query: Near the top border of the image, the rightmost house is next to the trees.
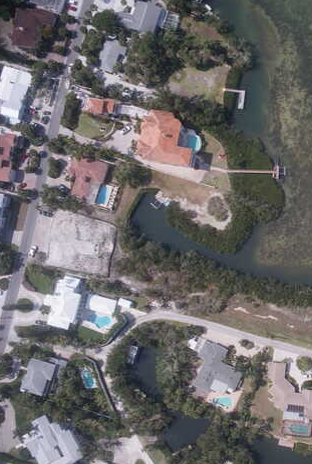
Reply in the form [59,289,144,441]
[116,2,162,33]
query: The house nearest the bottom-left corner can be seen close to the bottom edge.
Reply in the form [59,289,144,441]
[21,415,85,464]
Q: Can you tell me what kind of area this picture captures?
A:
residential area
